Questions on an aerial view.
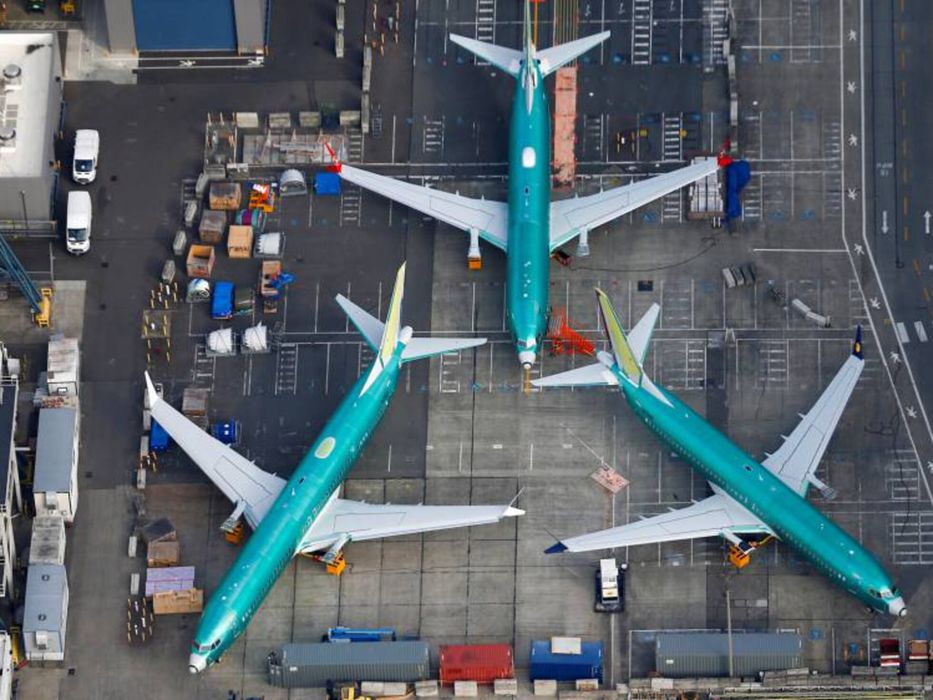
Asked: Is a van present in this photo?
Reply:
Yes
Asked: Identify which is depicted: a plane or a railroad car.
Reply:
plane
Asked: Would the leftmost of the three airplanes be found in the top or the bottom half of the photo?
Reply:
bottom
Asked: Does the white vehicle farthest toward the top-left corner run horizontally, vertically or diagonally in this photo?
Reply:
vertically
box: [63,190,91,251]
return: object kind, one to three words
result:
van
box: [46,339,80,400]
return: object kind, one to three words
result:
trailer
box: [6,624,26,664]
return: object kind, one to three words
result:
work vehicle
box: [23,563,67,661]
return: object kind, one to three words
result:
trailer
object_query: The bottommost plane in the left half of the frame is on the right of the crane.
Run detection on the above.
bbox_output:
[145,262,527,674]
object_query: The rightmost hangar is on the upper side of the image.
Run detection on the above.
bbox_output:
[132,0,239,52]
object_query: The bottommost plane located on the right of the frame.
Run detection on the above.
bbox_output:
[530,288,907,616]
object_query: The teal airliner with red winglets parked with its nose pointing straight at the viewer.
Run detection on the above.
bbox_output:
[325,0,733,367]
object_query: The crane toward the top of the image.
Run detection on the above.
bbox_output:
[0,226,52,326]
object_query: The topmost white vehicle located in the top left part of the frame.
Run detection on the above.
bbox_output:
[70,129,97,180]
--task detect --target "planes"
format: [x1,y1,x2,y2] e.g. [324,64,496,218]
[145,262,527,674]
[530,288,907,616]
[325,0,733,367]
